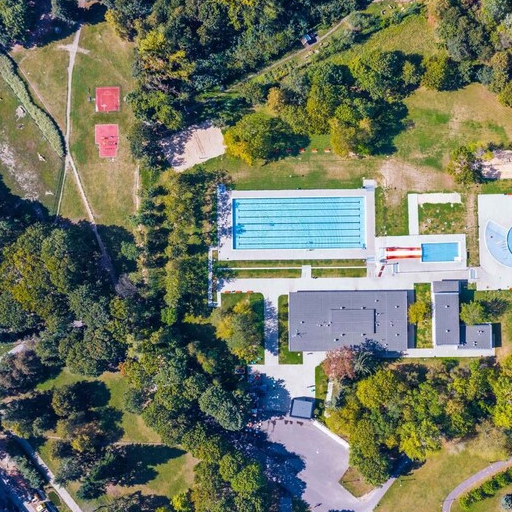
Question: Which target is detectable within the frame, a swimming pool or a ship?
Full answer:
It is a swimming pool that can be seen here.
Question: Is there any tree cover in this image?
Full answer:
Yes, tree cover shows up in the scene.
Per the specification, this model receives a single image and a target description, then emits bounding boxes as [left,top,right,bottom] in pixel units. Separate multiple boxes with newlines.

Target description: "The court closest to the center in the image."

[161,122,226,170]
